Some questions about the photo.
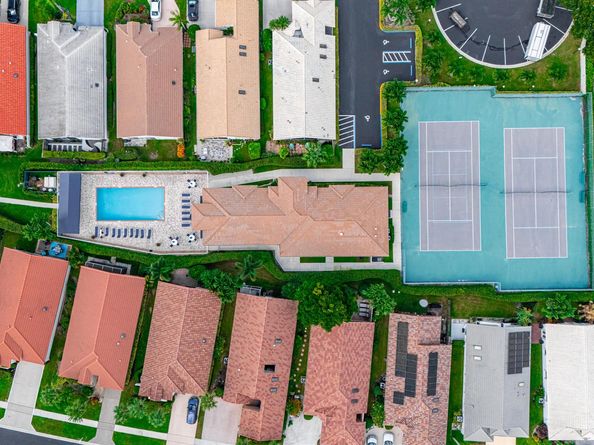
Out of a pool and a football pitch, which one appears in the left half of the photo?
pool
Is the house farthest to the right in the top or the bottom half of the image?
bottom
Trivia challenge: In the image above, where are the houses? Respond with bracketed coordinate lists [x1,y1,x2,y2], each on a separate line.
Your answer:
[541,323,594,442]
[461,323,531,442]
[0,248,72,369]
[37,20,110,139]
[195,0,260,138]
[223,293,297,439]
[0,22,31,136]
[116,20,184,138]
[384,314,452,445]
[140,281,221,402]
[59,266,147,390]
[303,322,375,445]
[273,1,336,139]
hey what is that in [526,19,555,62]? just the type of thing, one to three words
trailer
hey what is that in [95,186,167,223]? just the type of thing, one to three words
swimming pool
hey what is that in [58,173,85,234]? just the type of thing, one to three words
building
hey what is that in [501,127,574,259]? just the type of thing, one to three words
tennis court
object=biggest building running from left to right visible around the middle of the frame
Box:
[191,176,390,258]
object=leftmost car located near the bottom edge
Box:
[186,396,200,424]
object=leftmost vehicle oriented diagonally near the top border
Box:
[449,8,472,34]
